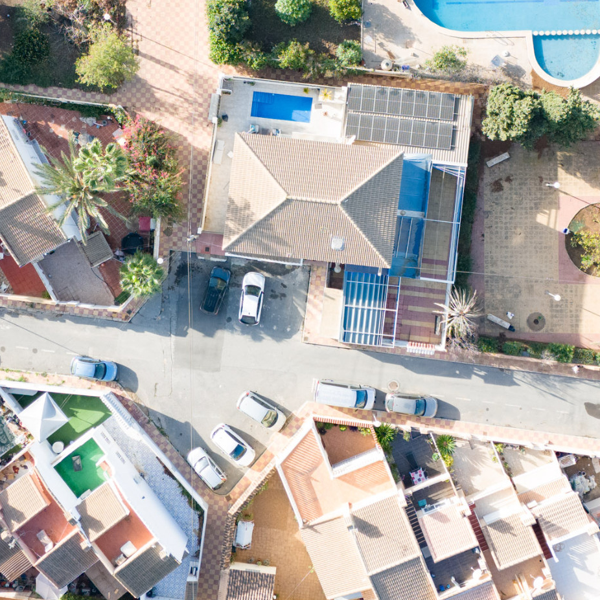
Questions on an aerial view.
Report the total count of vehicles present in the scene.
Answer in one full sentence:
The photo contains 8 vehicles.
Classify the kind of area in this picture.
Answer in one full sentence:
What you see here is a residential area.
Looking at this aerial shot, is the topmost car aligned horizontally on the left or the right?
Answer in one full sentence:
The topmost car aligned horizontally is on the left side of the image.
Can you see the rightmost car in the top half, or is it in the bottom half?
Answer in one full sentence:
The bottom half of the photo is where the rightmost car is.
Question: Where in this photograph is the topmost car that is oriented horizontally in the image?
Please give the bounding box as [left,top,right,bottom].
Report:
[64,353,123,384]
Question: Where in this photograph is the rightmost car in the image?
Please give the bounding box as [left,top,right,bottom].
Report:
[383,389,441,421]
